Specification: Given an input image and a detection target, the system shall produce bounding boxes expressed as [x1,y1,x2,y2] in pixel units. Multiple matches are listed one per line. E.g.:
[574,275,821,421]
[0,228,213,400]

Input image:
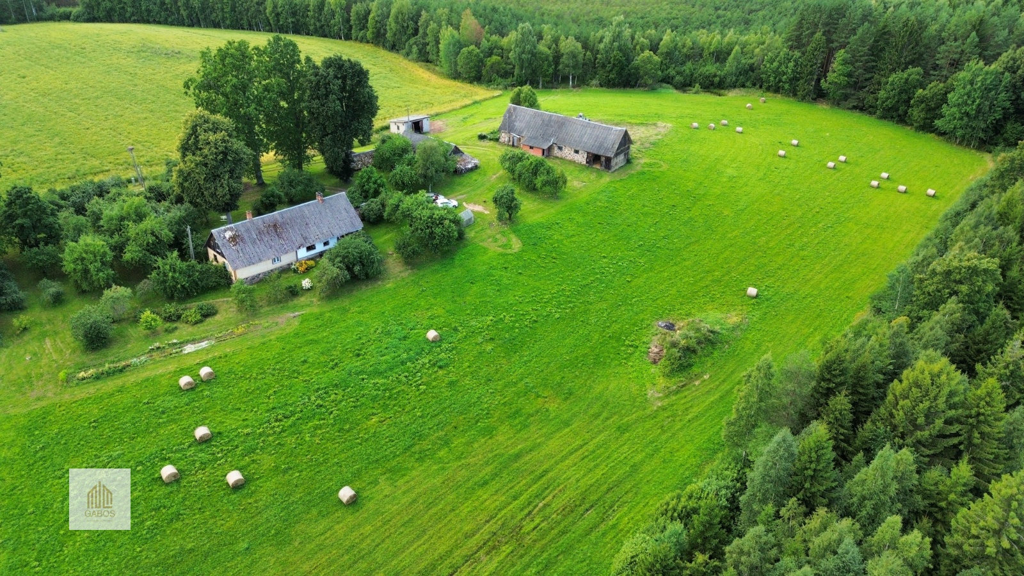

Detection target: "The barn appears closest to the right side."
[497,103,634,172]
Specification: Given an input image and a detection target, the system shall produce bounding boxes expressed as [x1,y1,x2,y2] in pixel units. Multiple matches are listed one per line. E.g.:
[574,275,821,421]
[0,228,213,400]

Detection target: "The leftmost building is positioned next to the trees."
[203,191,365,286]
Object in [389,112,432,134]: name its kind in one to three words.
building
